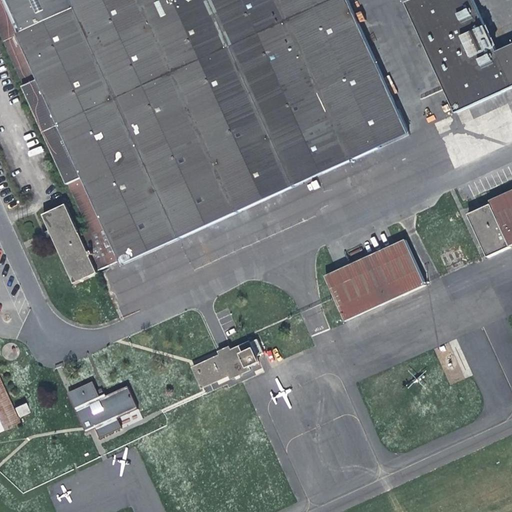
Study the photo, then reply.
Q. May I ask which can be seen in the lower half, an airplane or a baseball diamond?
airplane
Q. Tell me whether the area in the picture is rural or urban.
urban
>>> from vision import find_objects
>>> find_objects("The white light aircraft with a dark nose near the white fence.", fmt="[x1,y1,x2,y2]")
[112,446,130,476]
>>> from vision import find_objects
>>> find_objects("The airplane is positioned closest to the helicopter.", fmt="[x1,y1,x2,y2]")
[269,378,291,409]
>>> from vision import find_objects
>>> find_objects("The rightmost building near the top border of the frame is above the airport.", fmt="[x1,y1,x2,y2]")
[396,0,512,114]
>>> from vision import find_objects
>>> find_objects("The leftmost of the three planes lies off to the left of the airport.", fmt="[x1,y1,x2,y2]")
[58,484,73,504]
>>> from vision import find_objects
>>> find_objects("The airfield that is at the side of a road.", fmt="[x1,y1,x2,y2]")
[244,286,512,512]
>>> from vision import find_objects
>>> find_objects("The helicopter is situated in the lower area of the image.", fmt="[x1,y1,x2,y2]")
[402,370,426,389]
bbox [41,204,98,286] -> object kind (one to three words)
building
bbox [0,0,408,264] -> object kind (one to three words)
hangar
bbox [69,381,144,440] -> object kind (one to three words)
building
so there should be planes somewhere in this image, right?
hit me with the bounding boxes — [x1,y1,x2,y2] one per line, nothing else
[58,484,73,504]
[112,446,130,476]
[269,378,291,409]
